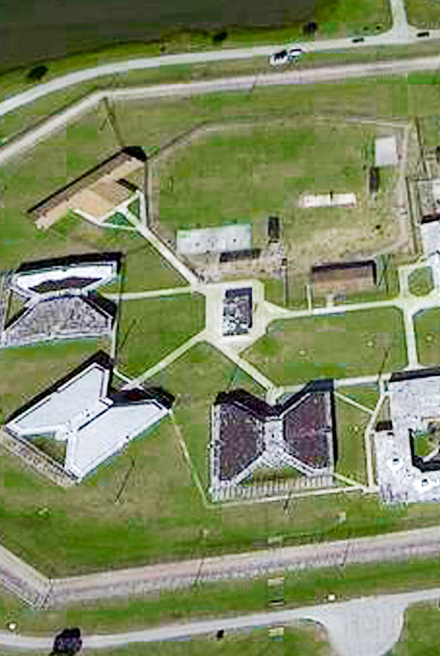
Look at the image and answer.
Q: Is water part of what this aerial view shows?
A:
No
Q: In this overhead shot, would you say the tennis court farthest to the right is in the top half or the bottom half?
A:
top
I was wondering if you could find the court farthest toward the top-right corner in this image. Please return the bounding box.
[376,137,397,165]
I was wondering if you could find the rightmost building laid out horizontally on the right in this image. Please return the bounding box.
[314,264,376,294]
